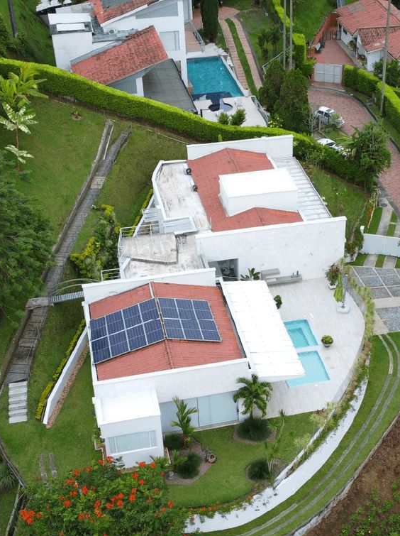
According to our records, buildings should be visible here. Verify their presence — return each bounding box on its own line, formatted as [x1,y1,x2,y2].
[336,0,400,98]
[81,133,348,478]
[47,0,205,125]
